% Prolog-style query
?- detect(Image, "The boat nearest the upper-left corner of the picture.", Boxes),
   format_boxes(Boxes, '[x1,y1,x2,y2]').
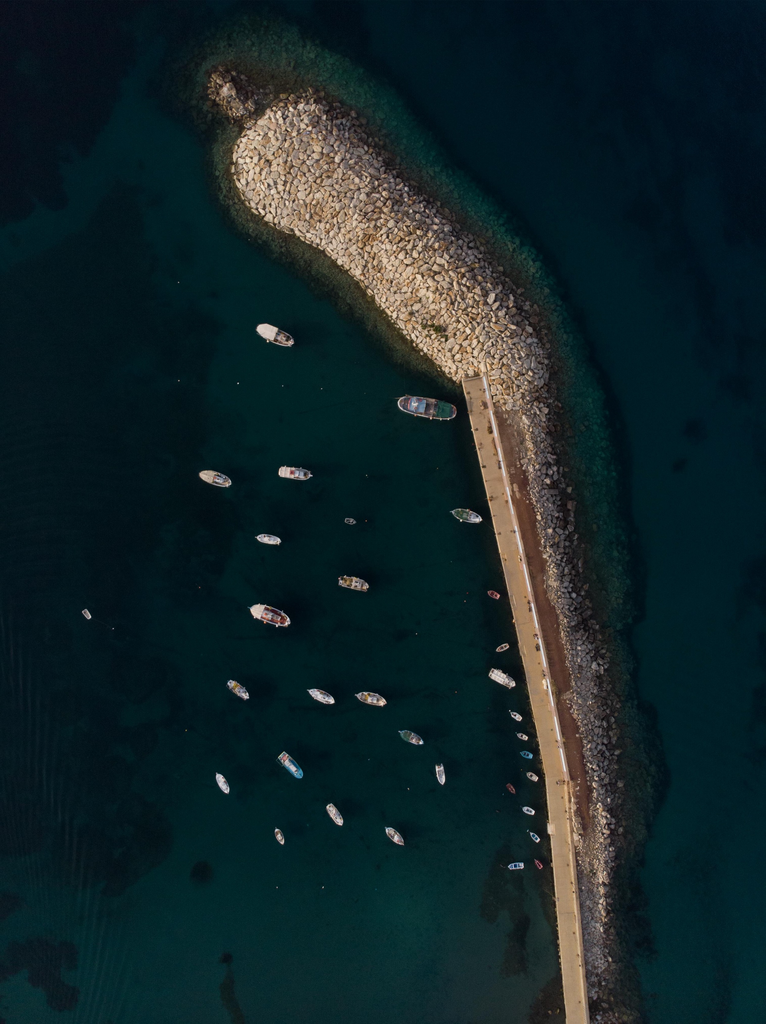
[255,324,294,345]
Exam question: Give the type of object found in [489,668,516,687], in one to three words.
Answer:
boat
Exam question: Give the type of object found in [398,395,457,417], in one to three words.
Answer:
boat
